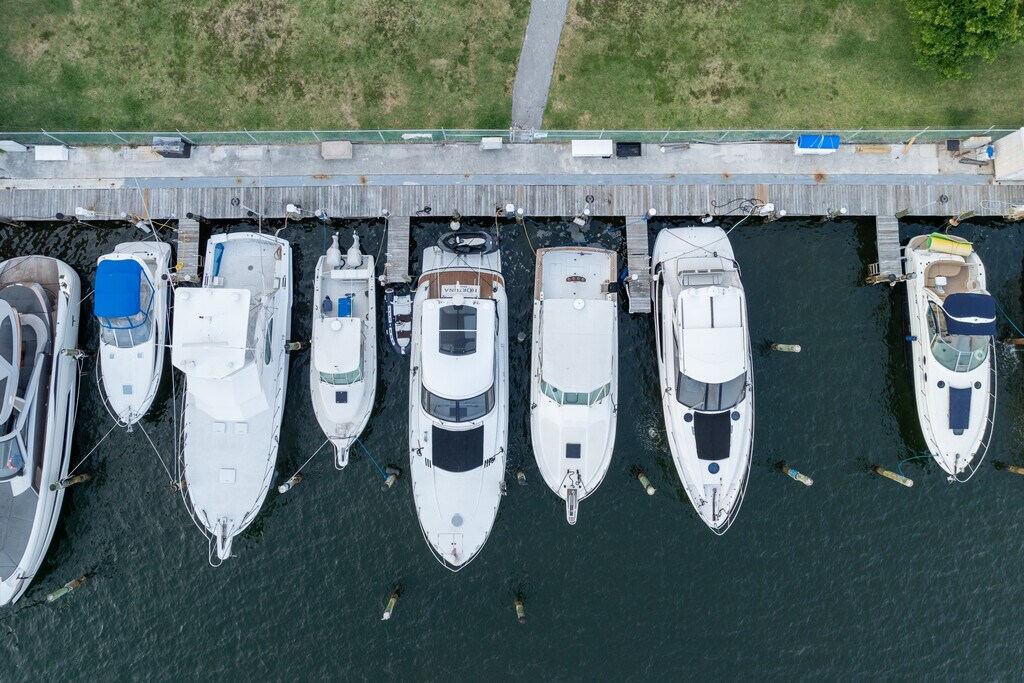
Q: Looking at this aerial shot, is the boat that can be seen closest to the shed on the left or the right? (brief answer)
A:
right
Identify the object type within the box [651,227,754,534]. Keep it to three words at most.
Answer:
boat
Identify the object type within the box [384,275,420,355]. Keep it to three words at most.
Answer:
boat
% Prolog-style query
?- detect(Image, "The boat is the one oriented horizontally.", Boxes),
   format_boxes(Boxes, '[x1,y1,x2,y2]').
[437,229,501,257]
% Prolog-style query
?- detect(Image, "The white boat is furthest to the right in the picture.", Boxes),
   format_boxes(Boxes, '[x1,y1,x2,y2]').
[900,234,1000,485]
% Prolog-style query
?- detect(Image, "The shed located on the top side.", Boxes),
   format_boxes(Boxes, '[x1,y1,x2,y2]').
[995,131,1024,180]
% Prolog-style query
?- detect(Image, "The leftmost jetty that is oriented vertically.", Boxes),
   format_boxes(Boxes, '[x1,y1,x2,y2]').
[176,219,202,283]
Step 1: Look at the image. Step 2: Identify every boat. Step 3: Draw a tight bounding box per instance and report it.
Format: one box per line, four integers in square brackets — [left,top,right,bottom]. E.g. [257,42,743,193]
[128,232,295,565]
[384,275,420,355]
[437,229,501,257]
[310,229,377,471]
[651,227,754,534]
[90,243,173,433]
[0,257,83,609]
[900,234,1000,485]
[530,246,618,525]
[409,246,509,574]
